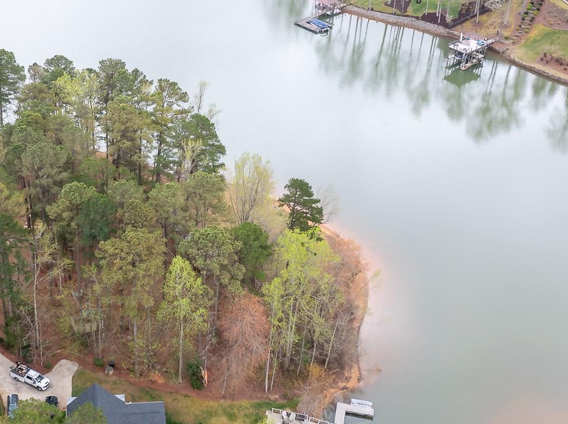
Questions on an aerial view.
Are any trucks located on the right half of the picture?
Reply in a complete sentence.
No, no truck can be made out on the right half of the picture.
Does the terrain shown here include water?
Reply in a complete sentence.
Yes, some water is visible.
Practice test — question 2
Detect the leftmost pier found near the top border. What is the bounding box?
[295,0,347,35]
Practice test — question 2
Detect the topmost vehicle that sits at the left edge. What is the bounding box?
[6,355,54,386]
